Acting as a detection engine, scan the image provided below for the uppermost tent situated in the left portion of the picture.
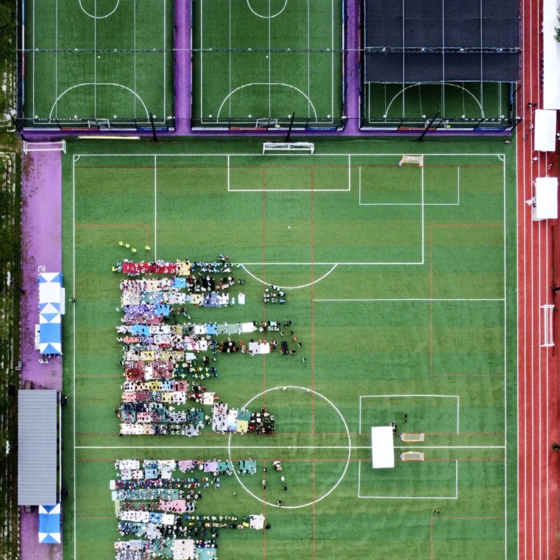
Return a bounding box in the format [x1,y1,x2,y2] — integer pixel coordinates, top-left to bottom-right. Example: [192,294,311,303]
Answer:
[40,273,62,315]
